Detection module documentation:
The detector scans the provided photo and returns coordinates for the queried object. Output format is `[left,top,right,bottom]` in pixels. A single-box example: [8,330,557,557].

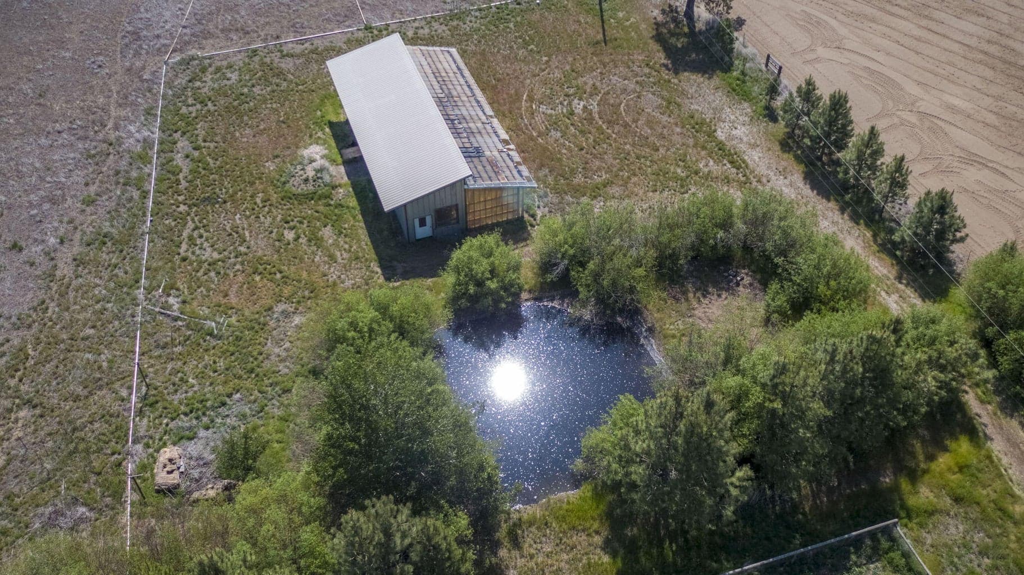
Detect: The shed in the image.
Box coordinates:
[328,32,537,243]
